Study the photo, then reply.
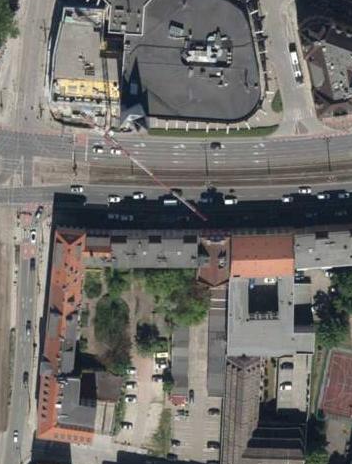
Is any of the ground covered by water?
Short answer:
No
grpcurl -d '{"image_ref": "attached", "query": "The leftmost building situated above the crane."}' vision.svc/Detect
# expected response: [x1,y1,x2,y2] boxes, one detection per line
[51,1,122,102]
